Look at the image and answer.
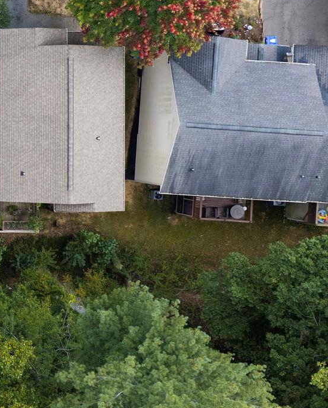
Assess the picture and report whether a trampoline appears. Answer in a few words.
No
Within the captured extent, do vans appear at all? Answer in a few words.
No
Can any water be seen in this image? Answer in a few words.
No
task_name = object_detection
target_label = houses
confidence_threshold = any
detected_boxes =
[0,27,126,212]
[126,42,328,204]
